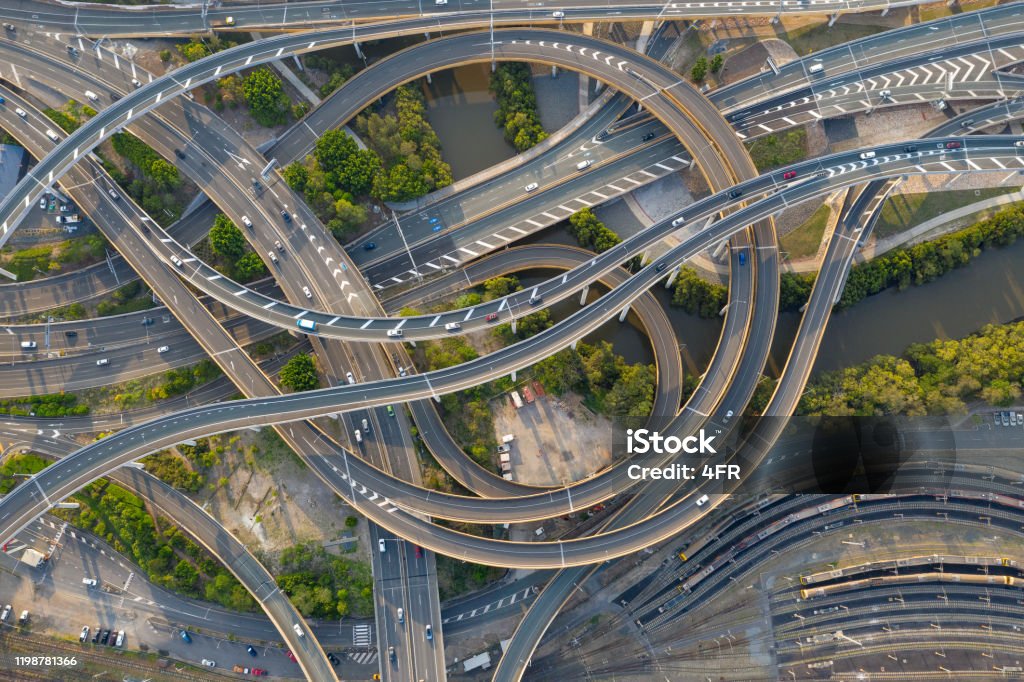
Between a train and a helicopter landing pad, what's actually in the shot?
train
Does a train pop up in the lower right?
Yes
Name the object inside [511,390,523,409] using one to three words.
vehicle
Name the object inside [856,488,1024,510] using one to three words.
train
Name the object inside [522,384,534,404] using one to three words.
vehicle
